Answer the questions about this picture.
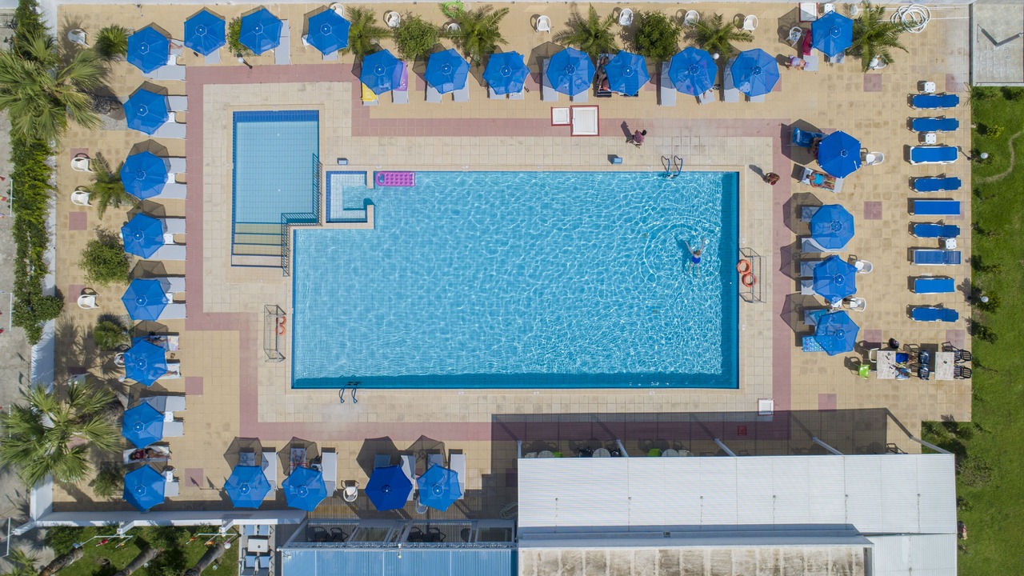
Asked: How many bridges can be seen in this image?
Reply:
zero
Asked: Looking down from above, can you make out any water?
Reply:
Yes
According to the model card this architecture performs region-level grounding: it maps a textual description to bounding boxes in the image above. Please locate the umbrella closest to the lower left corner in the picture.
[127,463,176,509]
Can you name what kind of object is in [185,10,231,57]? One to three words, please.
umbrella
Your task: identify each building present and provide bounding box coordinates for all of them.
[280,518,515,576]
[517,435,958,576]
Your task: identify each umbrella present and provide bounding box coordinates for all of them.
[602,51,649,100]
[360,49,405,97]
[419,461,461,507]
[185,10,231,57]
[127,463,176,509]
[127,338,178,385]
[483,52,530,97]
[127,87,177,134]
[810,131,859,179]
[241,10,284,57]
[227,464,275,505]
[123,150,173,199]
[423,48,469,94]
[310,9,351,56]
[807,11,849,59]
[729,49,777,99]
[126,212,169,258]
[808,308,858,353]
[545,47,594,97]
[125,399,175,444]
[284,461,329,508]
[804,203,852,247]
[806,254,853,302]
[668,47,717,96]
[132,27,180,72]
[125,278,177,321]
[366,465,414,509]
